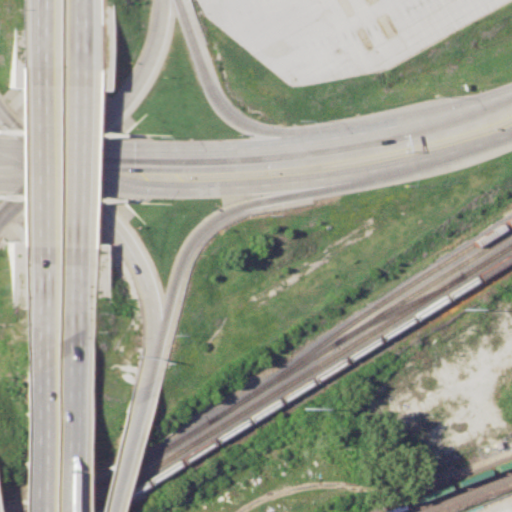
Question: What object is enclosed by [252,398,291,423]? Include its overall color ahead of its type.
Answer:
white rail car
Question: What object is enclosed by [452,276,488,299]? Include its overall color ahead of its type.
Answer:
white rail car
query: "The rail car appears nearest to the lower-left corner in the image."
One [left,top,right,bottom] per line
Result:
[132,482,158,502]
